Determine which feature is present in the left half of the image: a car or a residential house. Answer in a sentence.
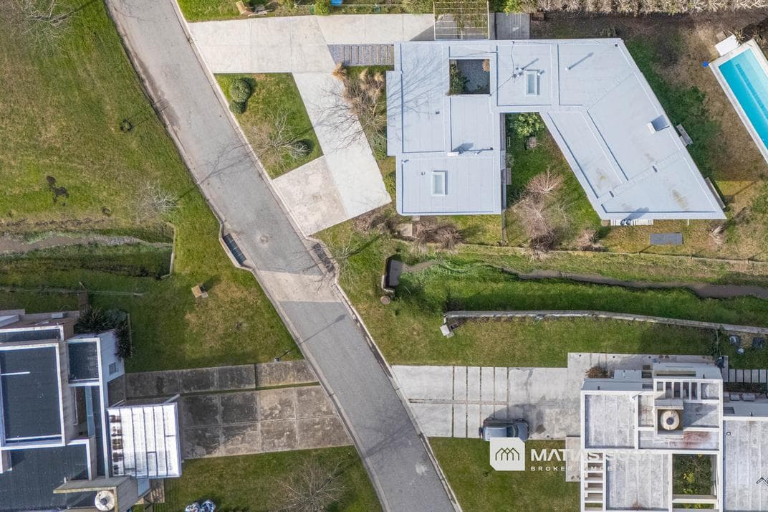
It is a residential house that can be seen in the left half of the image.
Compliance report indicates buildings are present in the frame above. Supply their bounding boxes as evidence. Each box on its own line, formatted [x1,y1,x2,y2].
[581,364,768,512]
[0,319,196,512]
[386,38,725,224]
